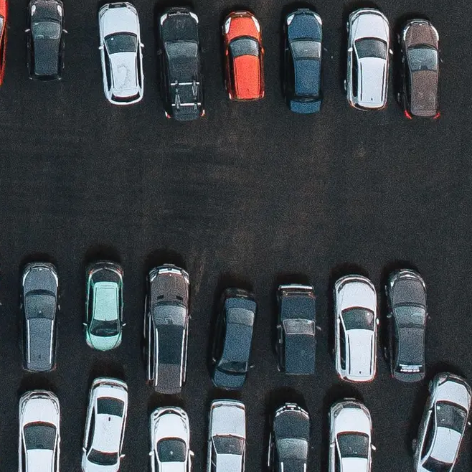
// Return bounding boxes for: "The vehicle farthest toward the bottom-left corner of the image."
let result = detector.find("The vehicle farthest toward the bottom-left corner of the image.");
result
[15,388,64,472]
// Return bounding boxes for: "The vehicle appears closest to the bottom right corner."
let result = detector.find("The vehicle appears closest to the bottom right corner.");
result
[413,369,470,472]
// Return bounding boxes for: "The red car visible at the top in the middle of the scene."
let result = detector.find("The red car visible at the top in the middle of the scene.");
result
[221,11,268,100]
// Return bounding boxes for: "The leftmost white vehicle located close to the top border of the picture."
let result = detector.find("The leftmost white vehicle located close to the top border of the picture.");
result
[96,2,146,103]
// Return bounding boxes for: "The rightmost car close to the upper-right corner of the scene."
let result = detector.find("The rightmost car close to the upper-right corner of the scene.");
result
[397,20,446,118]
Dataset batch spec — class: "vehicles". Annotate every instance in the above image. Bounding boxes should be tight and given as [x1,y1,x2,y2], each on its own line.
[383,268,433,381]
[281,8,330,112]
[276,285,323,381]
[413,369,470,472]
[144,263,196,392]
[83,257,129,349]
[221,11,268,100]
[205,396,251,472]
[25,0,68,85]
[15,388,64,472]
[81,374,130,472]
[17,260,63,369]
[0,0,11,85]
[210,286,259,385]
[332,274,383,381]
[268,400,316,472]
[327,398,378,472]
[344,8,396,109]
[96,2,146,103]
[397,20,446,118]
[147,404,195,472]
[158,7,209,122]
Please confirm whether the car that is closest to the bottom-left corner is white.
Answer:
Yes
